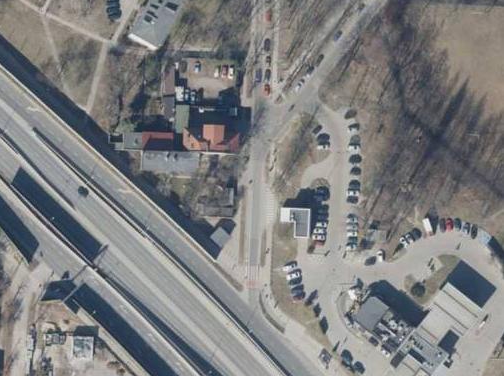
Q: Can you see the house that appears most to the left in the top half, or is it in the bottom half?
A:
bottom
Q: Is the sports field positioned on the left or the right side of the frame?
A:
right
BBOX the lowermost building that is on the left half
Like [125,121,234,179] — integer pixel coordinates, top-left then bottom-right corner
[73,337,93,359]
